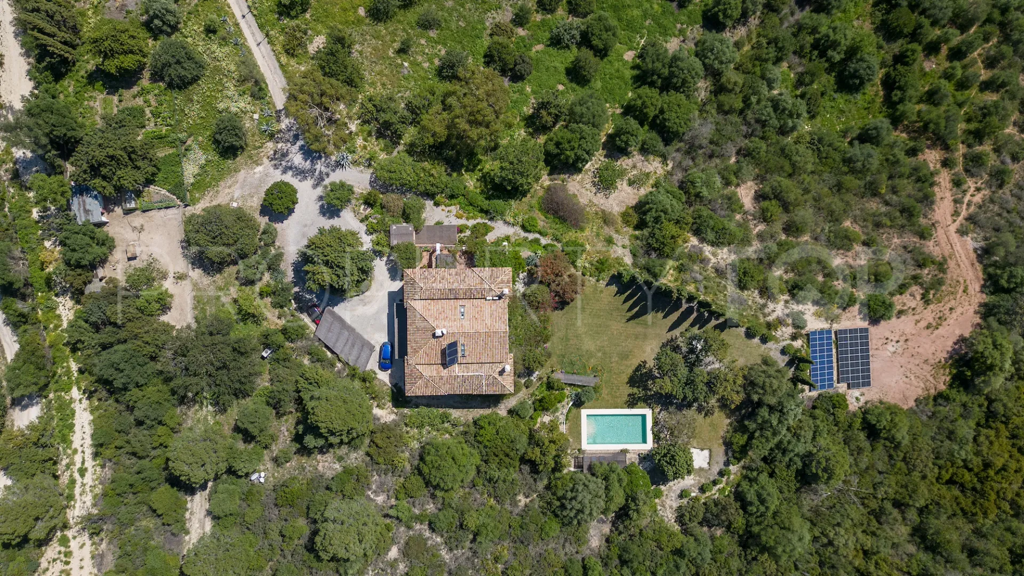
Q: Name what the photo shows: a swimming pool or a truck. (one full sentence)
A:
There is a swimming pool in the scene.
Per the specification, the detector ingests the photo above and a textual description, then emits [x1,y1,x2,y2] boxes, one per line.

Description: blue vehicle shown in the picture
[378,341,394,371]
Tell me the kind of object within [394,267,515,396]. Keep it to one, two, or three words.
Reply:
house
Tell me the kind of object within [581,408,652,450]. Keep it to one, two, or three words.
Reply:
swimming pool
